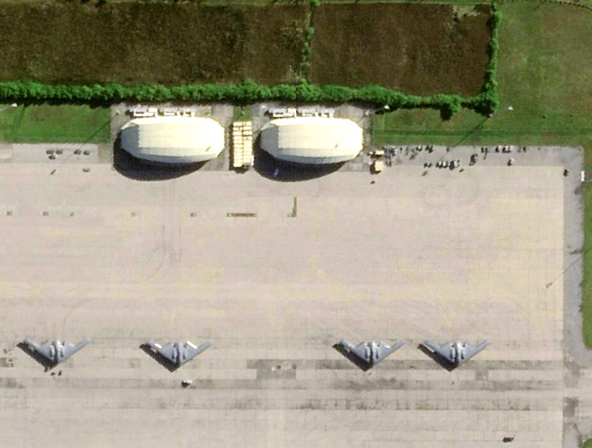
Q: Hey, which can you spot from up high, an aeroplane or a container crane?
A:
aeroplane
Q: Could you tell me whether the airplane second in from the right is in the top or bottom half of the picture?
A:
bottom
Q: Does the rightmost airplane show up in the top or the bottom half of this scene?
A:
bottom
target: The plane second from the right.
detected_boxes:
[340,337,408,364]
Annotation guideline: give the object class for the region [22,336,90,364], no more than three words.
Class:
airplane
